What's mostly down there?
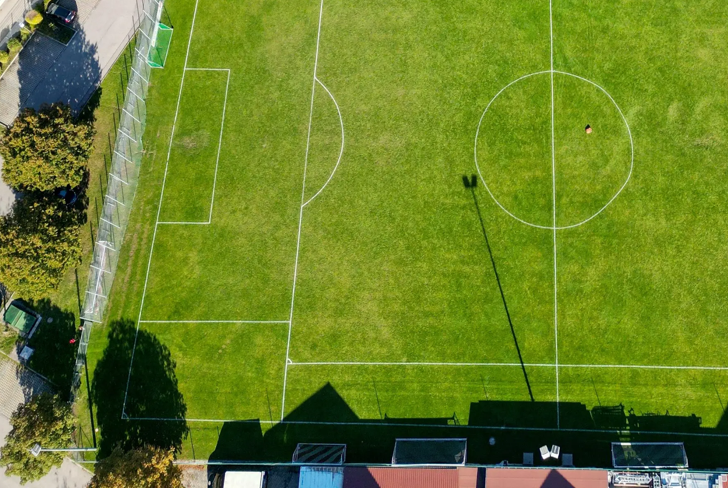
grass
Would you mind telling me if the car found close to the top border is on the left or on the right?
left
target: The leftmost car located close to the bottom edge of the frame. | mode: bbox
[203,467,225,488]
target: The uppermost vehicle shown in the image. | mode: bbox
[43,4,79,26]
